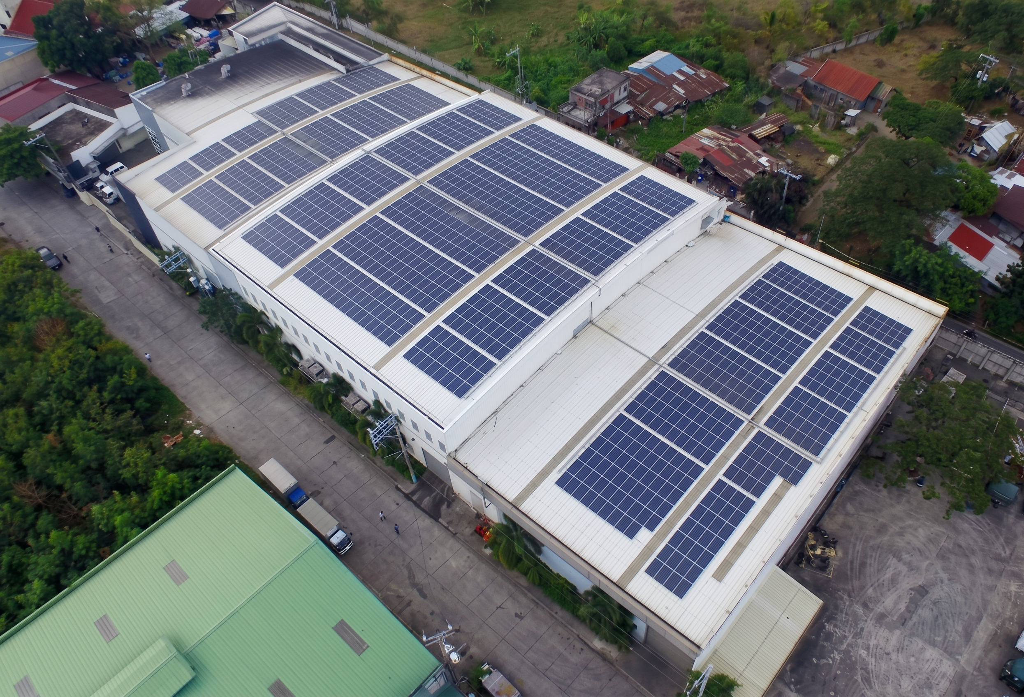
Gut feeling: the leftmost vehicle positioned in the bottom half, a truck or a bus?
truck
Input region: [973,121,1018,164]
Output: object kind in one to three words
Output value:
shed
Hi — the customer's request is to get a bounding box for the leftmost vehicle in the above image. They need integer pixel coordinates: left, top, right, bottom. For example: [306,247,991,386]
[36,247,65,269]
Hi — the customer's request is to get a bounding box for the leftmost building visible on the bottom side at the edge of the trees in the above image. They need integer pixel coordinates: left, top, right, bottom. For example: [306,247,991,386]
[0,462,439,697]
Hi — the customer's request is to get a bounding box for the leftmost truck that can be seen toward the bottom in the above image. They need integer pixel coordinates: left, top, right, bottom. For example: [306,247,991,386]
[258,458,312,514]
